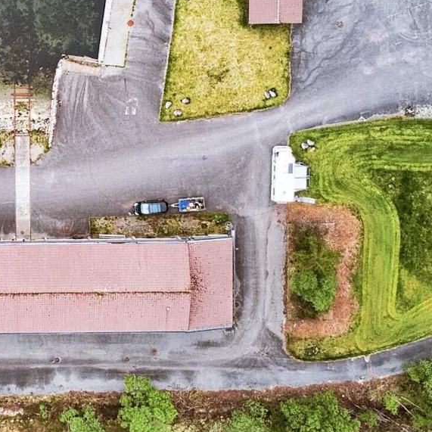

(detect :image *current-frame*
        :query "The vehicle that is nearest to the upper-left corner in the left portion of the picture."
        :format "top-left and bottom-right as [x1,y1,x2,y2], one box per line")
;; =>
[132,199,166,217]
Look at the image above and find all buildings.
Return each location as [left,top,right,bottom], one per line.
[244,0,303,25]
[0,235,235,337]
